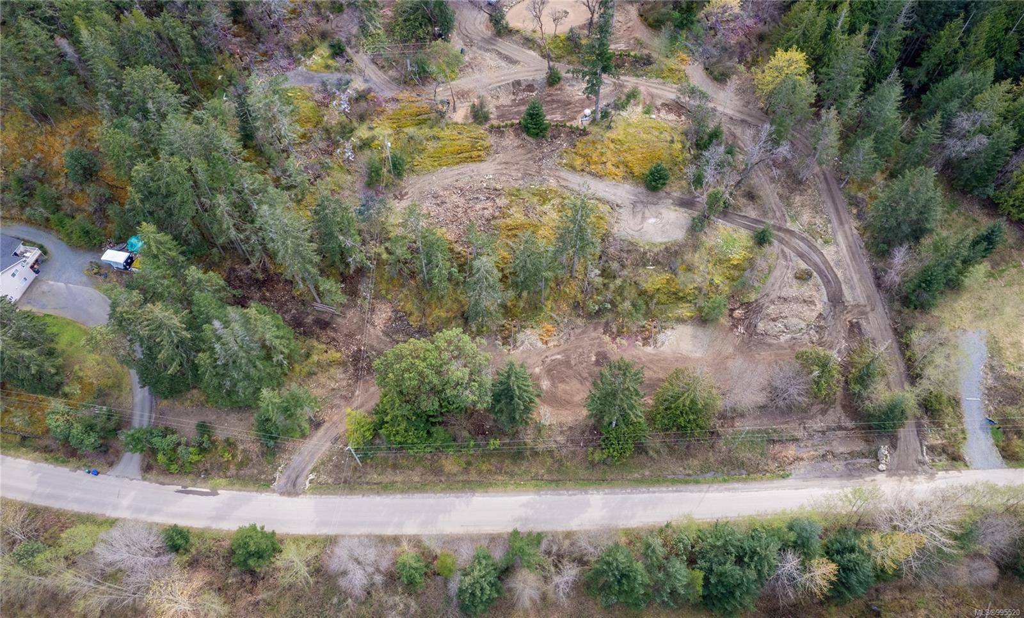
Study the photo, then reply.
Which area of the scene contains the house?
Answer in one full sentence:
You can find the house in the left area of the picture.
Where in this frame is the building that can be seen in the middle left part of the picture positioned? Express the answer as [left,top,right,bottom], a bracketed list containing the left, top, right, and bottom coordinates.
[0,238,48,311]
